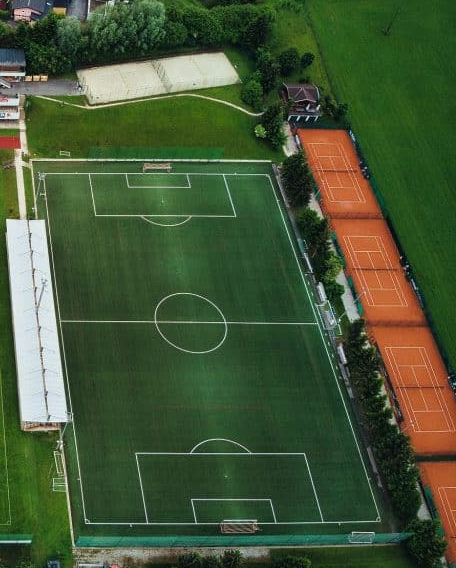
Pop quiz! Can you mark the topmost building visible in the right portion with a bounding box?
[280,86,322,120]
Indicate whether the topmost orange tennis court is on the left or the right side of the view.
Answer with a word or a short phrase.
right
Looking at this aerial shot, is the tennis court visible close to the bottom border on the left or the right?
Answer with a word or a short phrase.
right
